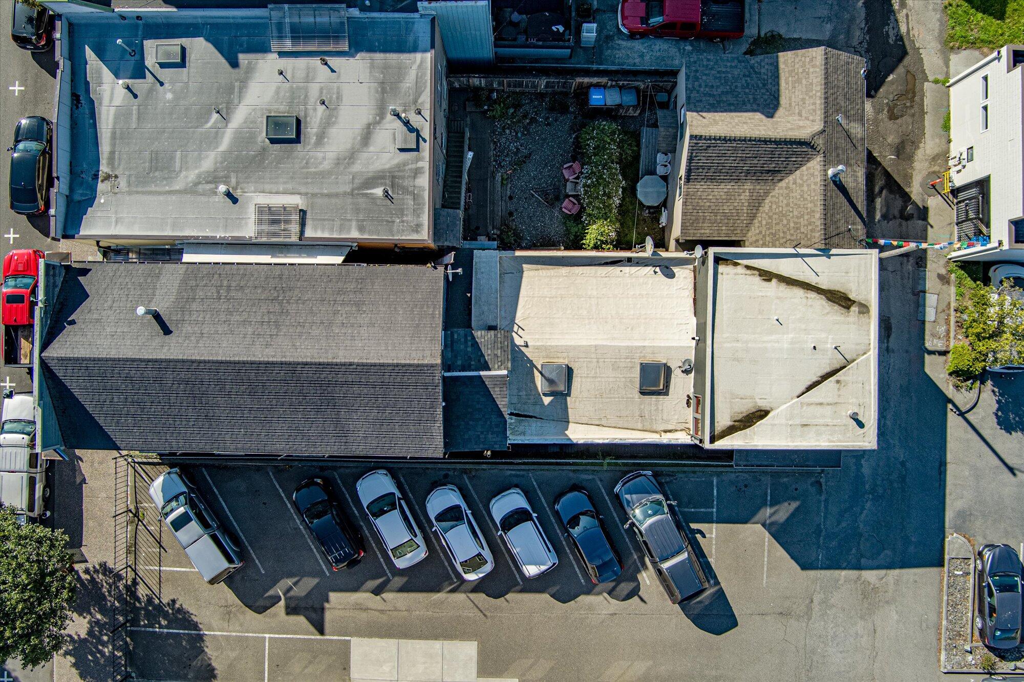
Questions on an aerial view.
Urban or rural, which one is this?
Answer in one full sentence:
The area is urban.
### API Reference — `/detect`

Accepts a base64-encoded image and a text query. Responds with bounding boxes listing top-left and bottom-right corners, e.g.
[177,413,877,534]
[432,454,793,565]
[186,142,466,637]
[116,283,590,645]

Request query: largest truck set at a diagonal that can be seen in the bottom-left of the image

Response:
[151,470,248,589]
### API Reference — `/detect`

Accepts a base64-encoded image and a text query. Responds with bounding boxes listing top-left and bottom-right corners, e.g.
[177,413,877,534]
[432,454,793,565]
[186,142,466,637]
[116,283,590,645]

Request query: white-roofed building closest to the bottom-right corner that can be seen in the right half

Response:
[692,249,877,449]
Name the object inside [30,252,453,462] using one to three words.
building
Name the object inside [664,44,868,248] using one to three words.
house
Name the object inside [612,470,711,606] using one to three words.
truck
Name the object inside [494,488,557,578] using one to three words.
car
